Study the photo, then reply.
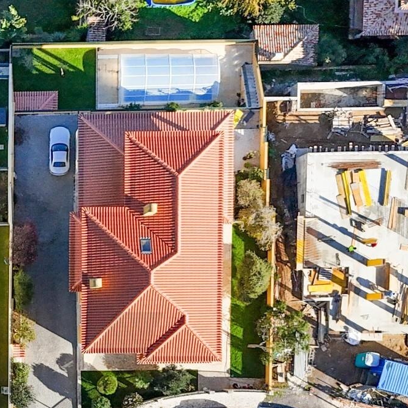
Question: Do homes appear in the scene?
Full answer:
Yes, the image includes a home.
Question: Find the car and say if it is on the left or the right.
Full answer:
The car appears in the left half of the scene.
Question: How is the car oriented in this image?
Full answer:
In this picture, the car is oriented from top to bottom.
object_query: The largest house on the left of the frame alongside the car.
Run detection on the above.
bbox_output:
[68,107,236,365]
